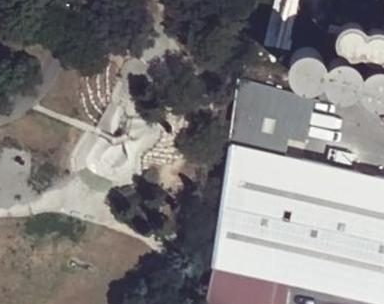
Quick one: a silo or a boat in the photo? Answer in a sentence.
Looking from above, you can make out a silo.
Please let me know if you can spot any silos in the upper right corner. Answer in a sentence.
Yes, looking in the upper right corner, one can make out a silo.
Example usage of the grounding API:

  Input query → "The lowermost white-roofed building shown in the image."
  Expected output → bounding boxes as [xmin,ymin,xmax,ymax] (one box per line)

[211,142,384,304]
